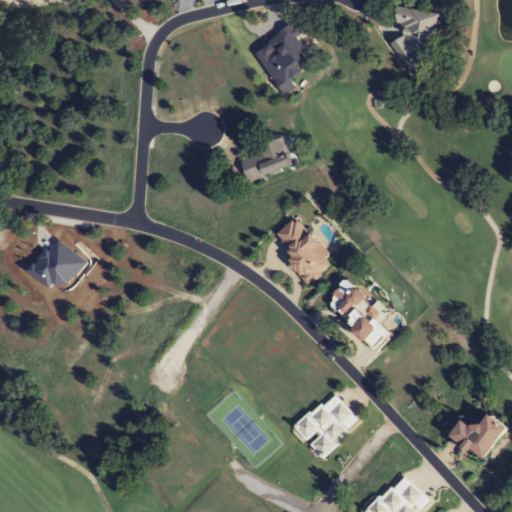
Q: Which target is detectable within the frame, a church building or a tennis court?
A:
tennis court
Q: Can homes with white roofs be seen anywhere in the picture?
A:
Yes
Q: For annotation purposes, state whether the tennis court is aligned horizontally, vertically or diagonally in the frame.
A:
diagonally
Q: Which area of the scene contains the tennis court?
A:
bottom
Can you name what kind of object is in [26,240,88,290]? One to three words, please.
house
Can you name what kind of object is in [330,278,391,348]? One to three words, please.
house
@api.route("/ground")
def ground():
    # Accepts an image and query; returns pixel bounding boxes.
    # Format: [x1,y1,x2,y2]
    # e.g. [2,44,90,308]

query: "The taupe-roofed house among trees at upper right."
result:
[388,8,442,60]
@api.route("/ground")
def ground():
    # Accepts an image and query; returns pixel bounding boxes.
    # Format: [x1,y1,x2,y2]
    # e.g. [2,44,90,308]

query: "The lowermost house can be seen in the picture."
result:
[362,476,430,512]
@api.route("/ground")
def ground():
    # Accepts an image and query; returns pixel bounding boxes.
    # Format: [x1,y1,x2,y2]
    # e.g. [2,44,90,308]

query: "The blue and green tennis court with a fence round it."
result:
[208,391,284,468]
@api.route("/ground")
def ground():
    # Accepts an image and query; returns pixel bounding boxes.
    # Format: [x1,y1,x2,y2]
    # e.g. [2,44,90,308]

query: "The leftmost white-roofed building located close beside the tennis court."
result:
[292,395,360,459]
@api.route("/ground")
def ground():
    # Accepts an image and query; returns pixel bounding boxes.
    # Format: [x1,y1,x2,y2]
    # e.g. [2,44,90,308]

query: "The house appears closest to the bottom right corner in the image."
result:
[448,412,509,460]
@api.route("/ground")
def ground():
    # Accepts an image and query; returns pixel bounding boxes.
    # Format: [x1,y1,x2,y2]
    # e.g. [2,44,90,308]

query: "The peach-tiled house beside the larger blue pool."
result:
[278,219,330,280]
